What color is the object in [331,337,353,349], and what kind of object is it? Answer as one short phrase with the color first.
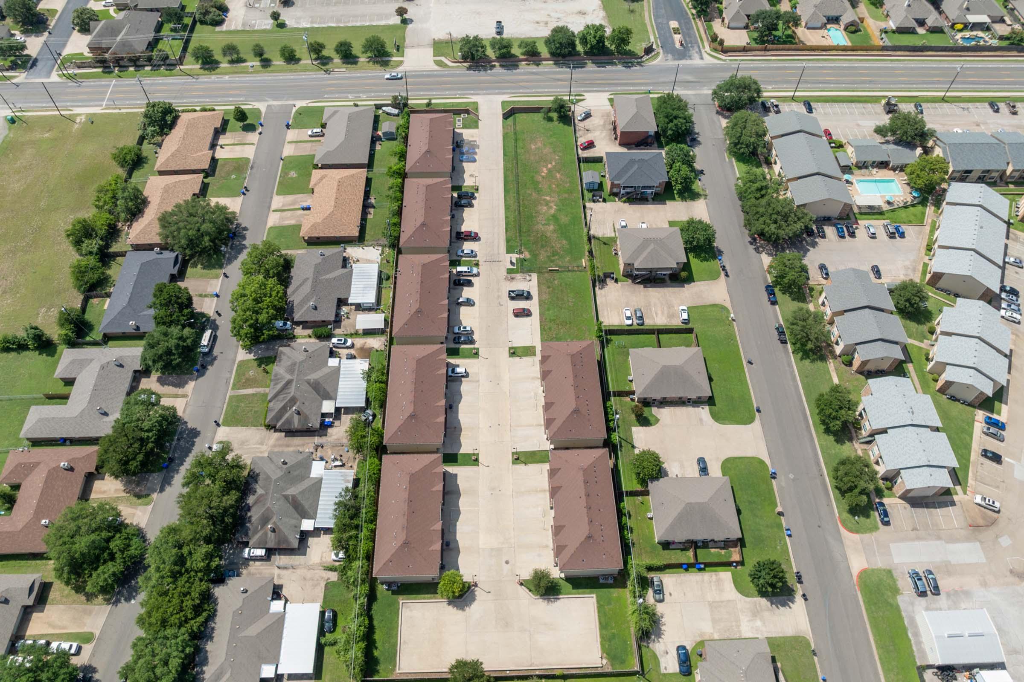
white vehicle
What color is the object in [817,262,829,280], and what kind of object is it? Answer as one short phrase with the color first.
gray vehicle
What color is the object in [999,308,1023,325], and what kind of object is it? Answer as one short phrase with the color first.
white car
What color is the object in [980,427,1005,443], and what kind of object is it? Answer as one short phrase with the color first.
gray car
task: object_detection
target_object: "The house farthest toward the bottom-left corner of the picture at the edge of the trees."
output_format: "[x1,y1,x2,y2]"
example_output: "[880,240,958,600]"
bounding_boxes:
[0,572,48,668]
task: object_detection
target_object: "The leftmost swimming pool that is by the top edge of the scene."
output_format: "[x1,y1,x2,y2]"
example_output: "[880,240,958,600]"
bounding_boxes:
[826,26,848,45]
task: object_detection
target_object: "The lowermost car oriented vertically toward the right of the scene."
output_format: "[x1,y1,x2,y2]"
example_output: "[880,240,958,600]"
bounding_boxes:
[676,646,691,676]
